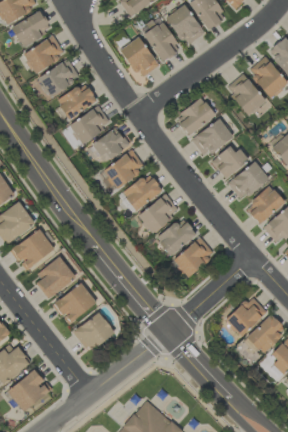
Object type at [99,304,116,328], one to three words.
swimming pool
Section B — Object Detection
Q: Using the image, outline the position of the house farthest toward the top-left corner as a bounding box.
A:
[0,0,37,24]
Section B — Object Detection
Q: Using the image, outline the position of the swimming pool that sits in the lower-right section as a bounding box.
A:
[221,326,236,346]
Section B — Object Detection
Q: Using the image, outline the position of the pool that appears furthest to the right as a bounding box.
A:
[269,122,288,137]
